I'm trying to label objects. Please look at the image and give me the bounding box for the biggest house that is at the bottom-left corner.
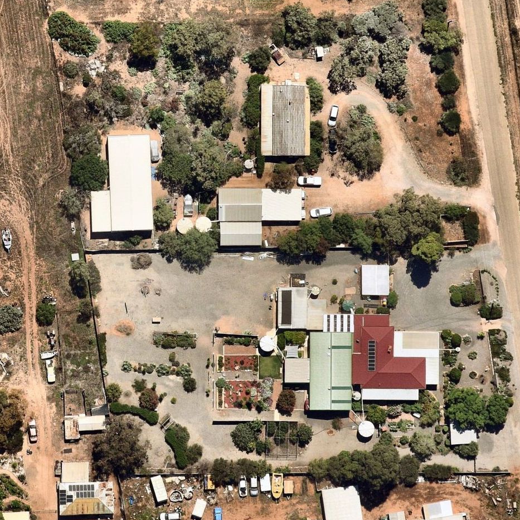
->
[57,481,113,516]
